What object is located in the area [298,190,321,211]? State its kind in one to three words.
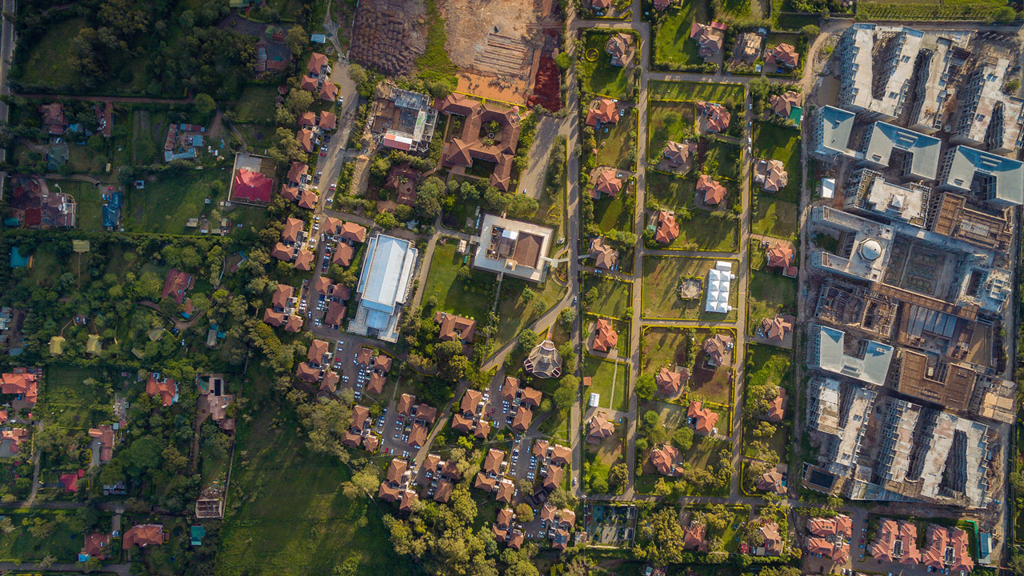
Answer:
house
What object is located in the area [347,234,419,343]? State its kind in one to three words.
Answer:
building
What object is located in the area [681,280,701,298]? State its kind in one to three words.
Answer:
gazebo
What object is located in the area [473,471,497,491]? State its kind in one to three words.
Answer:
house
